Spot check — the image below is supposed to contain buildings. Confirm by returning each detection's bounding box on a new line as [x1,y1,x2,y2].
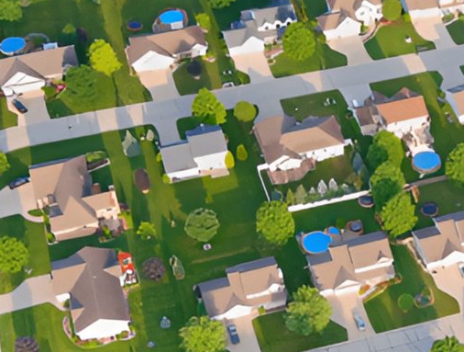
[158,126,230,183]
[407,213,464,274]
[307,234,401,299]
[199,258,289,324]
[0,47,78,96]
[247,115,348,173]
[310,0,391,48]
[26,156,124,249]
[441,85,464,128]
[222,1,304,64]
[401,0,464,23]
[349,81,434,138]
[126,25,211,77]
[52,247,129,342]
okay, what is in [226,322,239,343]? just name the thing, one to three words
vehicle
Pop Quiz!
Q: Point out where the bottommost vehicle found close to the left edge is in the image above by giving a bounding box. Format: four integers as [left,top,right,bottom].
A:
[8,174,29,187]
